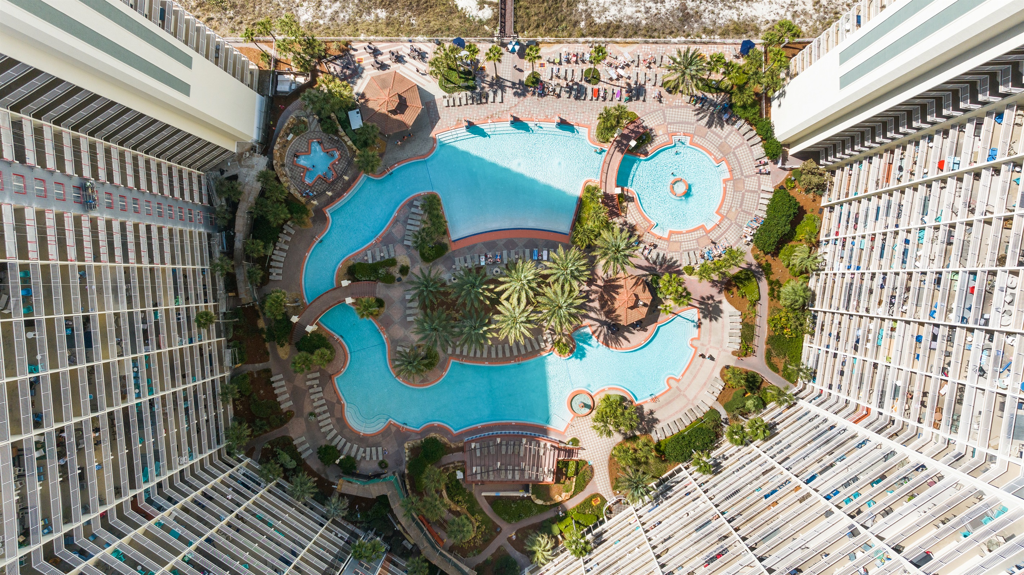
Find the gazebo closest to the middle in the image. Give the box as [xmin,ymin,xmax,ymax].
[598,273,652,325]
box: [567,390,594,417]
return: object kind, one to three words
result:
fountain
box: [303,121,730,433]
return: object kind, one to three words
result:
swimming pool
